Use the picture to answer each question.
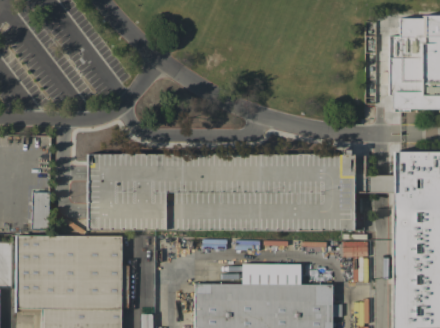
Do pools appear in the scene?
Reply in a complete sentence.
No, there's no pool here.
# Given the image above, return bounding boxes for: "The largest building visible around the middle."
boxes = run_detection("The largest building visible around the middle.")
[86,148,356,232]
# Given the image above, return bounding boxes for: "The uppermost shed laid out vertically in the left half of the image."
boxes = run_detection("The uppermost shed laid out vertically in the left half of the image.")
[32,193,50,232]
